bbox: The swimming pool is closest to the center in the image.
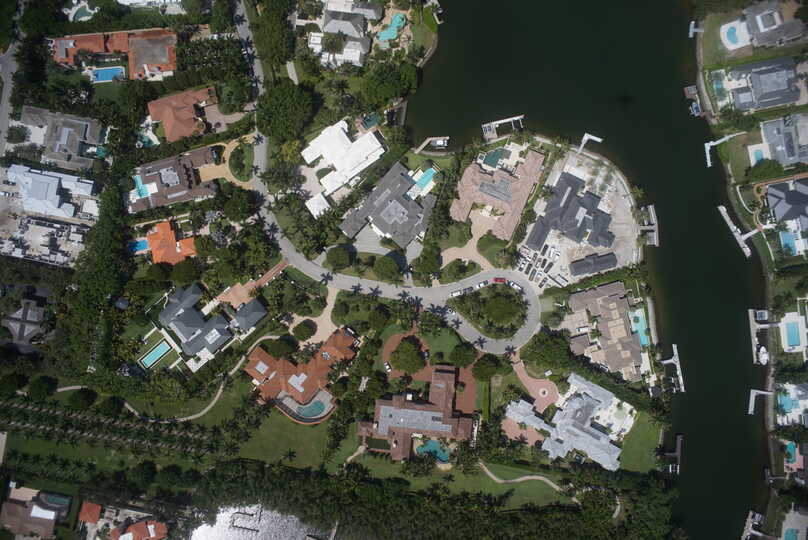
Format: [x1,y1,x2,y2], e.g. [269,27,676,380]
[416,167,438,189]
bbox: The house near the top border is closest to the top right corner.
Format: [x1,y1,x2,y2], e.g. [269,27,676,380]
[741,0,803,48]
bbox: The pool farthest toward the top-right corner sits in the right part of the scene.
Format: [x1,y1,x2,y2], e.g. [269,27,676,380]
[726,25,739,44]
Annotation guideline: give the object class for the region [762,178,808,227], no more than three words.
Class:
house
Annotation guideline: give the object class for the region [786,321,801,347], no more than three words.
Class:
swimming pool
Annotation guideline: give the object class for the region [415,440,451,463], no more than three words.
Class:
swimming pool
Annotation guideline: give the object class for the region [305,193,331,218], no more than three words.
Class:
building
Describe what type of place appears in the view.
residential area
